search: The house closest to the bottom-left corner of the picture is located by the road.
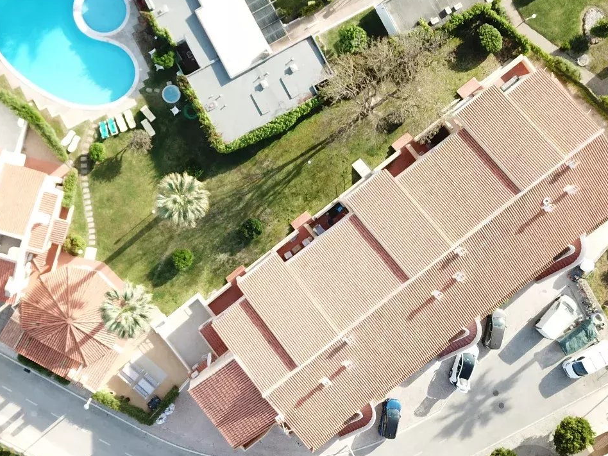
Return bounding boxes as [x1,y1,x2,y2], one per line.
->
[0,260,127,394]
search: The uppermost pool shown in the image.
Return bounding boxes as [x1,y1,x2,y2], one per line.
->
[80,0,131,36]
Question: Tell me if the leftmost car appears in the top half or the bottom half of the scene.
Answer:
bottom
